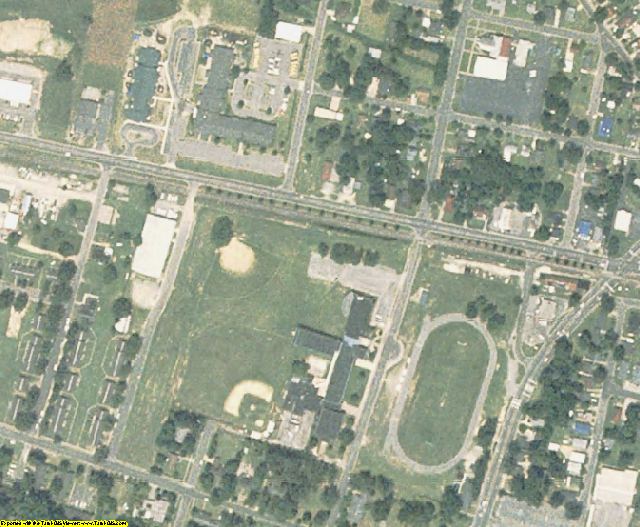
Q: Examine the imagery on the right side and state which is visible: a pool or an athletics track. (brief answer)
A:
athletics track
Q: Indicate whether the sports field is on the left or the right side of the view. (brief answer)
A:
right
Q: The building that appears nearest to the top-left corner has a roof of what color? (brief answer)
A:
white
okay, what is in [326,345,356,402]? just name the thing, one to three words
building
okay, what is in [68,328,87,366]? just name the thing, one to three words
building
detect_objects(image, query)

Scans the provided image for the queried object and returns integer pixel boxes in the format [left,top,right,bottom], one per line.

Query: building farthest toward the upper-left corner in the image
[0,78,33,107]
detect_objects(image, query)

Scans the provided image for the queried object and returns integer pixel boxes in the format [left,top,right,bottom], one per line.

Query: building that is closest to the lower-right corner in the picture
[596,469,639,506]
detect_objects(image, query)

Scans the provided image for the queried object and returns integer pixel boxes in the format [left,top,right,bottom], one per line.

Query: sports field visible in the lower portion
[401,323,488,464]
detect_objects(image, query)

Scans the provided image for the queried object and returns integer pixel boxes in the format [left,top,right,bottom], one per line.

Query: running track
[392,313,497,474]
